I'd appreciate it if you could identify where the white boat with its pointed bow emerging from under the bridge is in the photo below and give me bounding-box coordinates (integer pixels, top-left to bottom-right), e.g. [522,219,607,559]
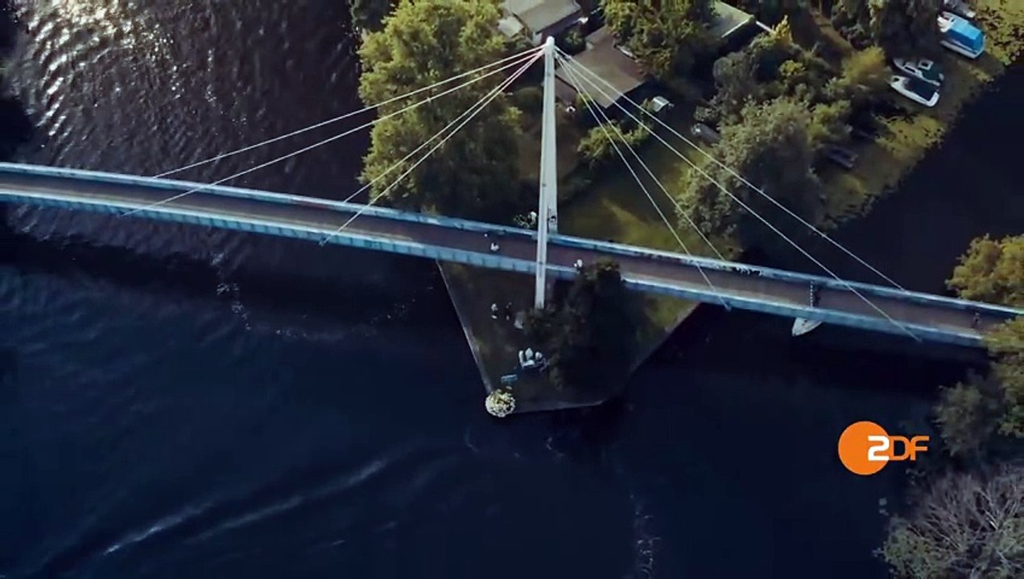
[794,322,817,340]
